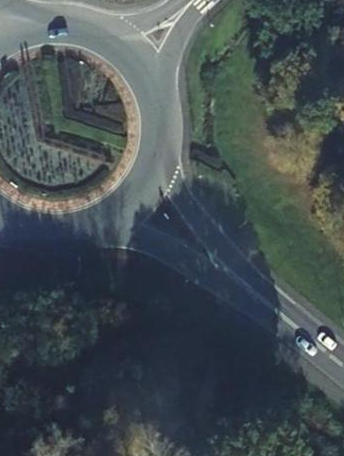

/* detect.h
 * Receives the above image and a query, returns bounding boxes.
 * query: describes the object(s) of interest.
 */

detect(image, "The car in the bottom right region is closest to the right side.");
[316,334,337,352]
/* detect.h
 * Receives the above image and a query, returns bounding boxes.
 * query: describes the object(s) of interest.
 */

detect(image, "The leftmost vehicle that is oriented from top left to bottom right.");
[296,336,318,357]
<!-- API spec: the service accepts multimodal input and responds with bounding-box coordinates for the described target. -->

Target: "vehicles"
[296,336,318,357]
[48,26,68,38]
[316,334,337,352]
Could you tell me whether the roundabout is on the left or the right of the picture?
left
